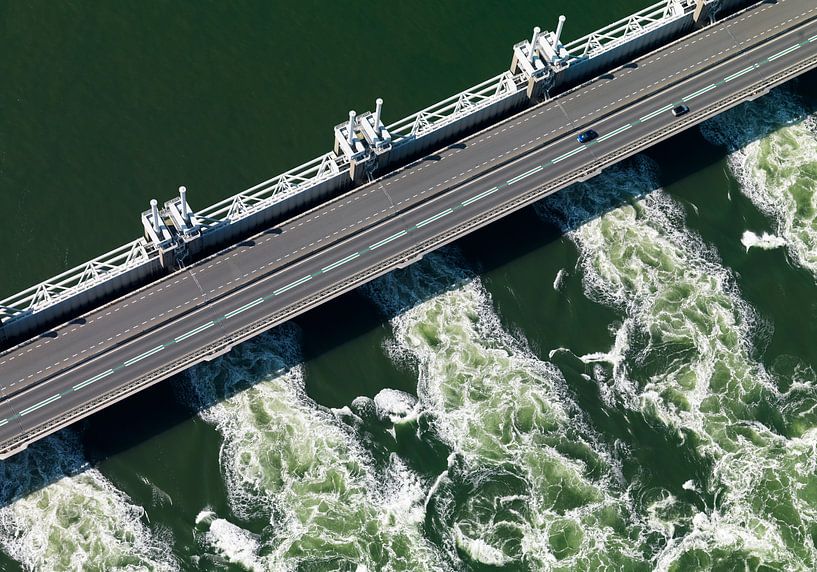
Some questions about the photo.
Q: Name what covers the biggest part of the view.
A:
water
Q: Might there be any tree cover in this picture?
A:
No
